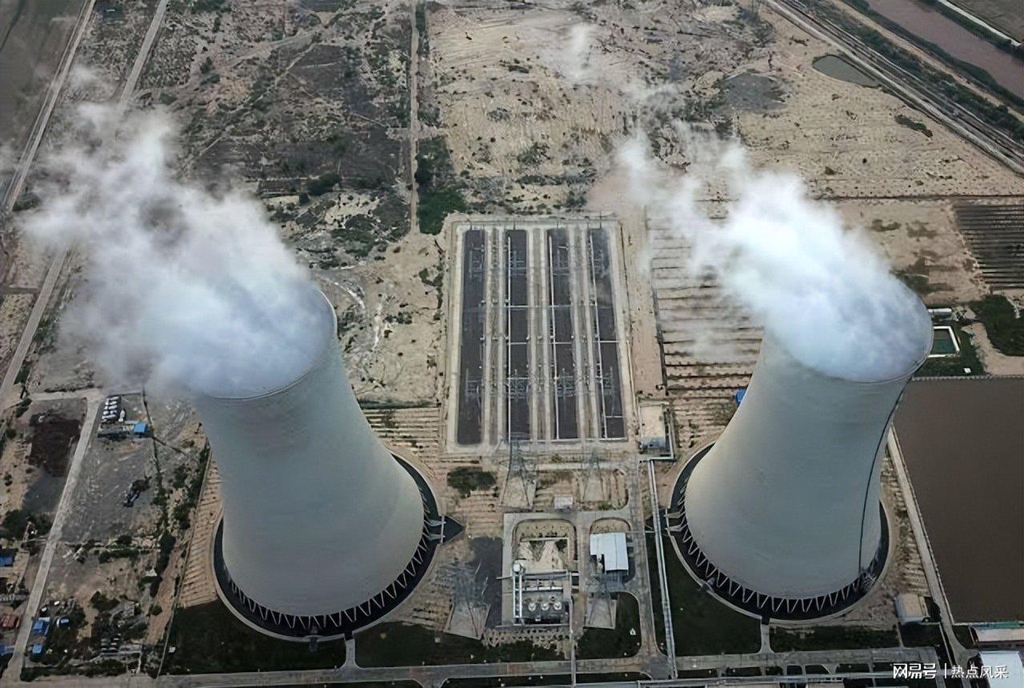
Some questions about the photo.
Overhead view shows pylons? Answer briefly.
Yes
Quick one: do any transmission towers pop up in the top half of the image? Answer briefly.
No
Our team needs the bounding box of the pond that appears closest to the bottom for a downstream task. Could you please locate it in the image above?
[896,379,1024,623]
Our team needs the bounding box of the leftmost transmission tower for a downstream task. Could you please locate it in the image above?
[423,561,501,637]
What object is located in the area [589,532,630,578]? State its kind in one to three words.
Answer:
building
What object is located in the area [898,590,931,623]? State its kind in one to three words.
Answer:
building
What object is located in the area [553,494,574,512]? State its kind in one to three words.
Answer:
shed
